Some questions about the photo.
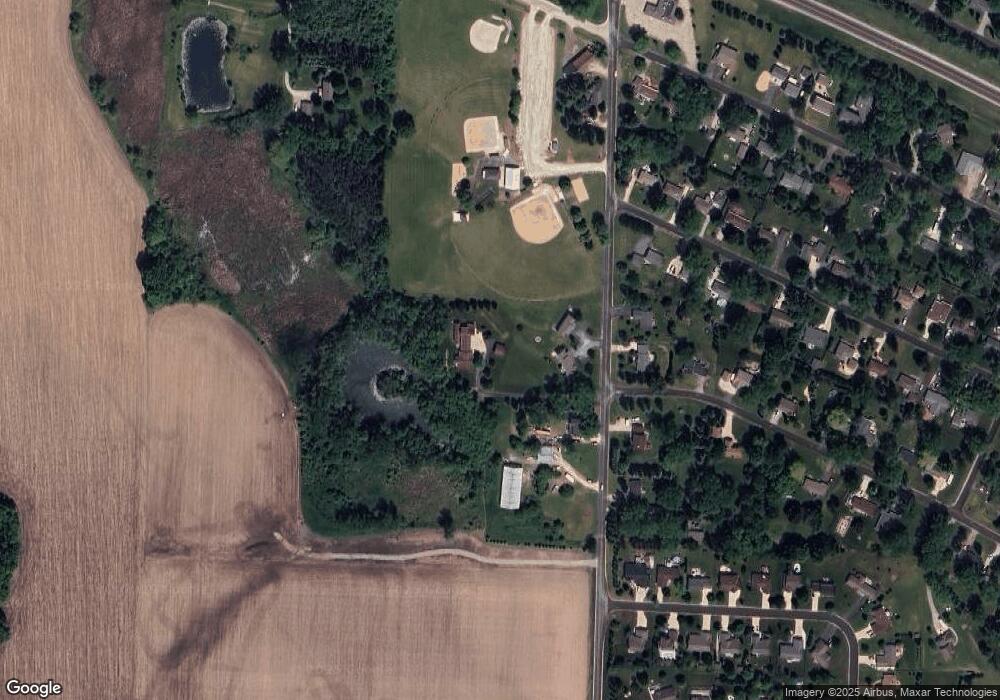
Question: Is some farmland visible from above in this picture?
Yes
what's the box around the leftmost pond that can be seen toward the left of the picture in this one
[181,17,232,112]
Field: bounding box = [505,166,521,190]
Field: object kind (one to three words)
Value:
building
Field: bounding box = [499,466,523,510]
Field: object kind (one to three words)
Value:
barn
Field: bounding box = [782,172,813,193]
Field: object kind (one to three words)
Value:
house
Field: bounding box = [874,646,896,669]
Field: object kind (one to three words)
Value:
house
